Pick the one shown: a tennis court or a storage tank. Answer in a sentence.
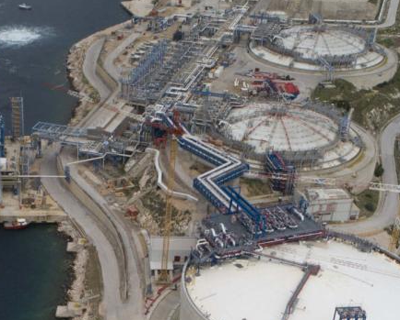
I can see a storage tank in this picture.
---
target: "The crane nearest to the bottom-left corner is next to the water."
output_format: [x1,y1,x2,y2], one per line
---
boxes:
[32,72,202,289]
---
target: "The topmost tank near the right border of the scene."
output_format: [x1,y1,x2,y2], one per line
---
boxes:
[254,24,387,73]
